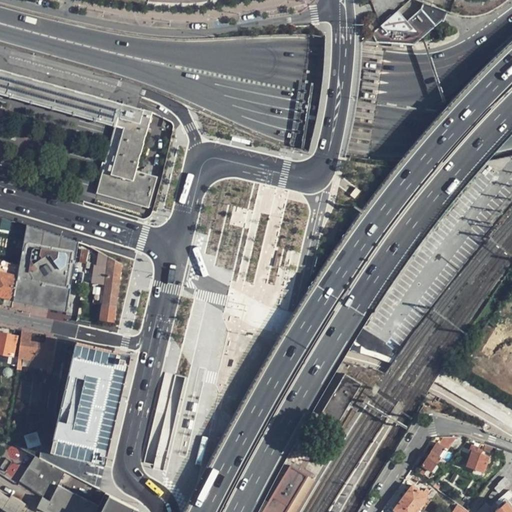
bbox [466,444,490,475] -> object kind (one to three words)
house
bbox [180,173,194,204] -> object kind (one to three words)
vehicle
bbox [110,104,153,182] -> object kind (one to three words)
building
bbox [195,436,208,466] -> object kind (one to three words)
vehicle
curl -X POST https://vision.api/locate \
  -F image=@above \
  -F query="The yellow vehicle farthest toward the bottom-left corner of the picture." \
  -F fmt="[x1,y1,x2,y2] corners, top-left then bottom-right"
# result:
[146,480,164,496]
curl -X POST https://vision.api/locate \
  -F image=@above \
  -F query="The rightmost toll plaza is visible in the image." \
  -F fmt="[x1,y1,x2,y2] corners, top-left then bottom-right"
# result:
[348,40,420,158]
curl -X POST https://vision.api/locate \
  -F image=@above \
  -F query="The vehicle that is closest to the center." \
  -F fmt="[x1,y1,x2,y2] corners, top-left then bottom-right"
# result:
[193,246,208,276]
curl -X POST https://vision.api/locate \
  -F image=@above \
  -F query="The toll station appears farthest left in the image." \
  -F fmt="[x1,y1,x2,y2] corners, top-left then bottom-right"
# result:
[285,34,324,148]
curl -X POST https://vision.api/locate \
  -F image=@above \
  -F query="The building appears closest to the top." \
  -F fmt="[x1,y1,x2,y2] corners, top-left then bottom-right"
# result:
[374,4,447,45]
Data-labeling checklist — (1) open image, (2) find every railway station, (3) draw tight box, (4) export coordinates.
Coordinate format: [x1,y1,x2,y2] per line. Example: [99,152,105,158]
[0,70,118,130]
